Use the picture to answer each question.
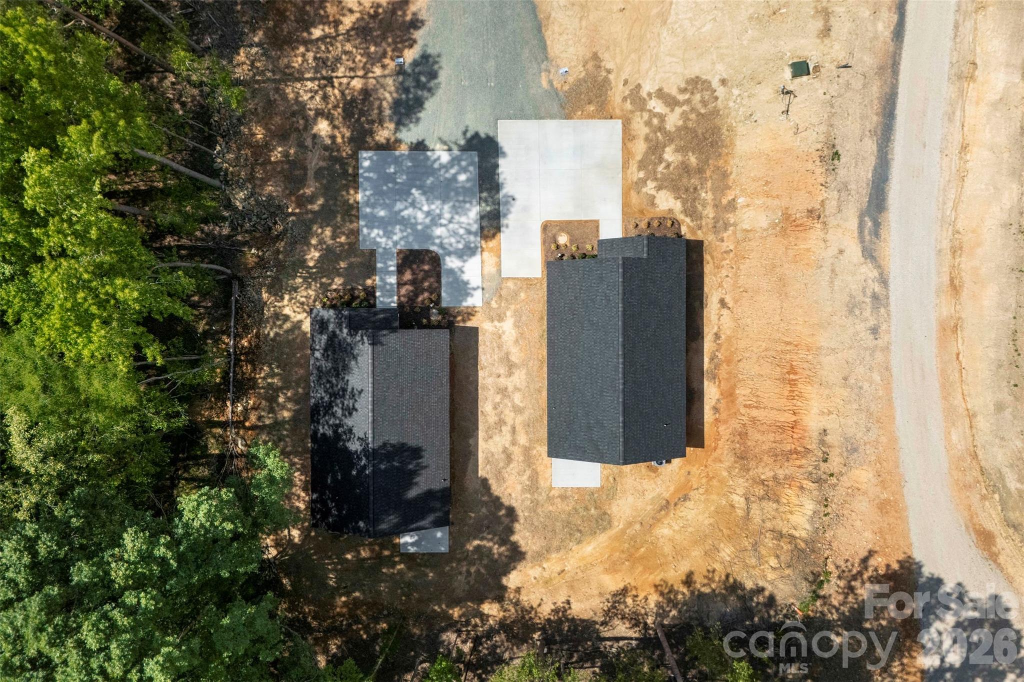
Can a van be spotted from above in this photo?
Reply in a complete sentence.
No, no van can be seen from above.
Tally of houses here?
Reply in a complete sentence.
Looking from above, you can make out 2 houses.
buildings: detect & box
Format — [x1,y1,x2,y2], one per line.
[547,237,685,462]
[311,307,450,535]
